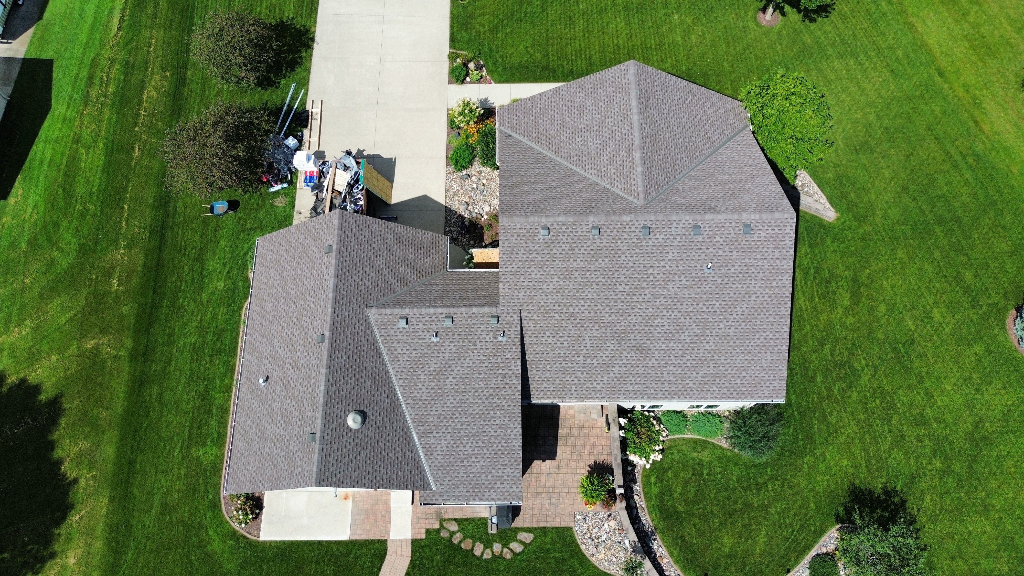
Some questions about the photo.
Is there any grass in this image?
Yes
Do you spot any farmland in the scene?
No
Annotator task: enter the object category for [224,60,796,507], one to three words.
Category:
house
